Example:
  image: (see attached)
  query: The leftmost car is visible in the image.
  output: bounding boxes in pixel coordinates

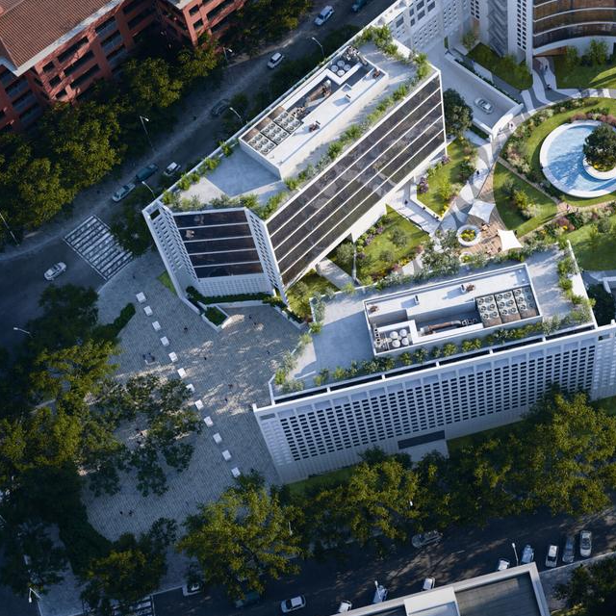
[39,261,70,282]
